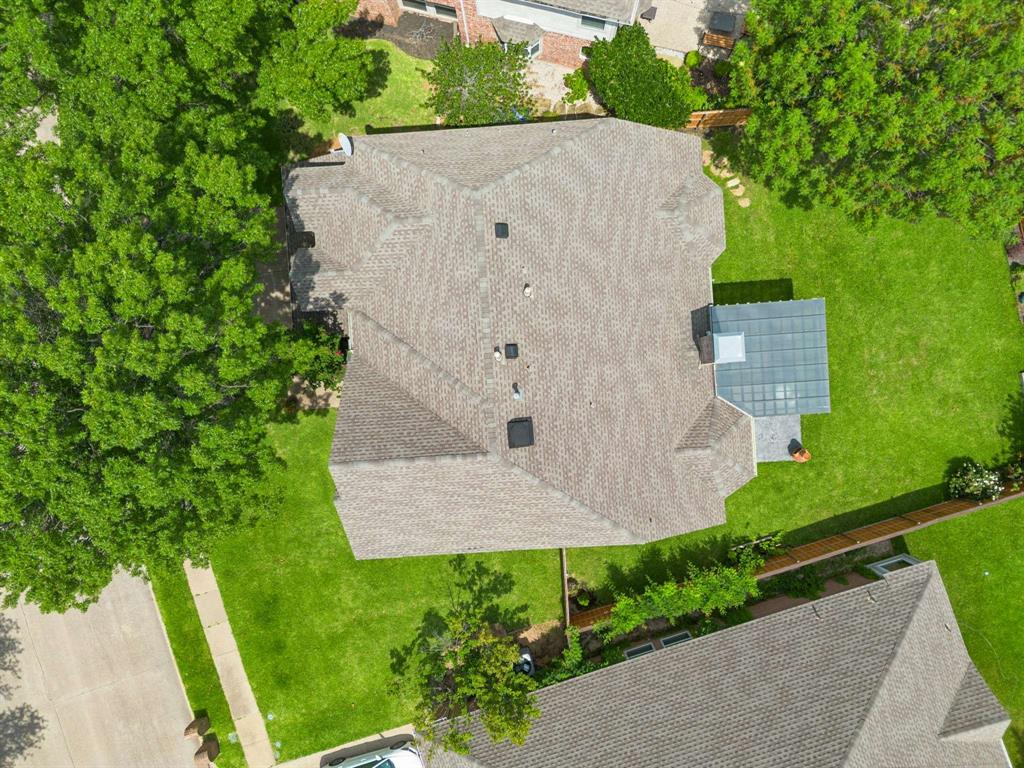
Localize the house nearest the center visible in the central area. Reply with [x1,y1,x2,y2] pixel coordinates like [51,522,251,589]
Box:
[282,116,758,558]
